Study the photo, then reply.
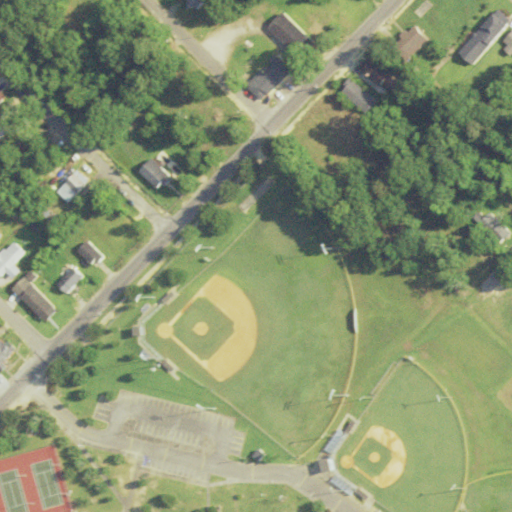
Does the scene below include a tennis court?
Yes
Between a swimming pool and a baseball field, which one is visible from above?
baseball field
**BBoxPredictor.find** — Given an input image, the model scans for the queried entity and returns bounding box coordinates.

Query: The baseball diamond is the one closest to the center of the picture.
[144,192,358,460]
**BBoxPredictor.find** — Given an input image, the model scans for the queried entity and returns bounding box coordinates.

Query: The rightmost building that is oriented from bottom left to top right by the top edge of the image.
[460,10,511,64]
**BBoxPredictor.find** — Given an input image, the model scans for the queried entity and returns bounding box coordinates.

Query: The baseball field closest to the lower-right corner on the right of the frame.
[336,358,468,512]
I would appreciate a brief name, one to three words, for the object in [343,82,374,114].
house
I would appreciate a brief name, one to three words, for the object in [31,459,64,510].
tennis court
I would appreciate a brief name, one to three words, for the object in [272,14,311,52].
house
